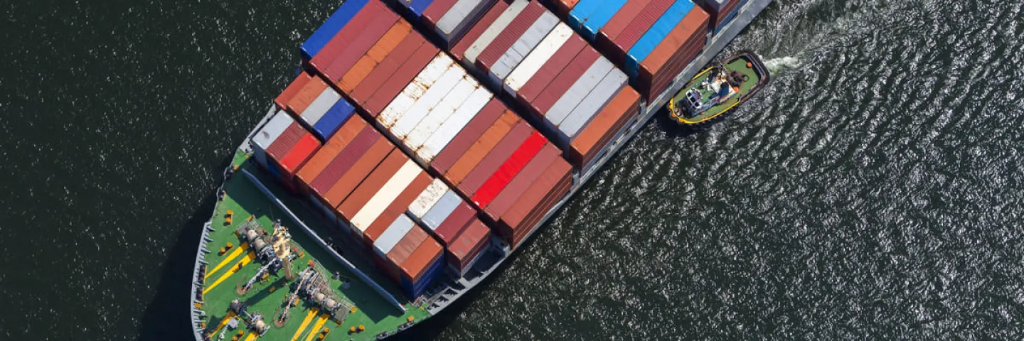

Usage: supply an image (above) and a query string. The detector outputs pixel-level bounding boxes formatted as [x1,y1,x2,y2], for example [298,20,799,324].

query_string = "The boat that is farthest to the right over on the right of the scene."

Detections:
[666,48,773,134]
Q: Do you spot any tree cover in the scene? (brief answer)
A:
No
